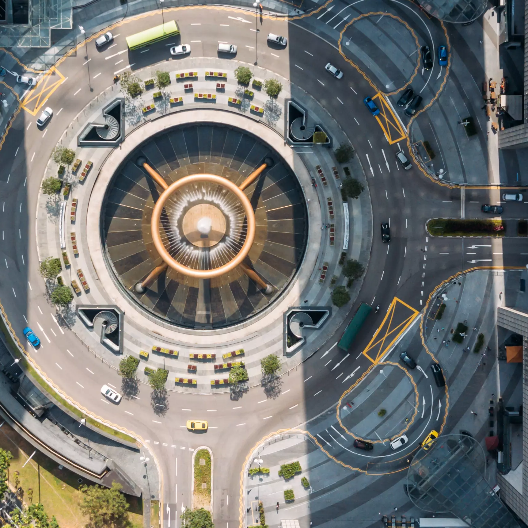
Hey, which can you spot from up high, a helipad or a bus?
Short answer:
bus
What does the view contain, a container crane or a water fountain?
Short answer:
water fountain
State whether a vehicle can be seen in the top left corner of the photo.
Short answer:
Yes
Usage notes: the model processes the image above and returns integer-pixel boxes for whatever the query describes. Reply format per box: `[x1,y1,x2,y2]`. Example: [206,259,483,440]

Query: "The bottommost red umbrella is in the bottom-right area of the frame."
[483,435,498,449]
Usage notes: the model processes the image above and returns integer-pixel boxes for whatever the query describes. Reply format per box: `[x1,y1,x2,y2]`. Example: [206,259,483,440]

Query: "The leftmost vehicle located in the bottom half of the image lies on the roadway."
[23,326,41,348]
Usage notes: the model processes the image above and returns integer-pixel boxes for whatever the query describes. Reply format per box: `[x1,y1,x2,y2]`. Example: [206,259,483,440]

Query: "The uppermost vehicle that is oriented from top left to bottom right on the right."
[324,61,344,79]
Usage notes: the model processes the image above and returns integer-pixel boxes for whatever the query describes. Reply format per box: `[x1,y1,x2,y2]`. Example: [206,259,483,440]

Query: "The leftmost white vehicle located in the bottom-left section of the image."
[100,385,122,401]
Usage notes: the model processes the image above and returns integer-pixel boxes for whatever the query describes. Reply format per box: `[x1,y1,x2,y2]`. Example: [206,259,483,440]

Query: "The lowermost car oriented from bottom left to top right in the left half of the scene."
[36,106,54,128]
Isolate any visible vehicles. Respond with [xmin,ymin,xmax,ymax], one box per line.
[388,434,409,449]
[186,420,208,431]
[36,106,54,128]
[397,87,413,109]
[125,22,183,51]
[0,66,8,76]
[324,61,344,79]
[480,204,503,214]
[100,385,122,401]
[265,33,288,45]
[399,350,417,372]
[504,192,523,202]
[16,74,38,86]
[170,44,191,55]
[405,96,422,117]
[394,151,411,170]
[363,96,380,117]
[93,31,115,49]
[333,300,375,354]
[216,43,239,54]
[23,326,41,348]
[380,221,389,242]
[352,438,374,450]
[422,47,431,68]
[431,362,446,386]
